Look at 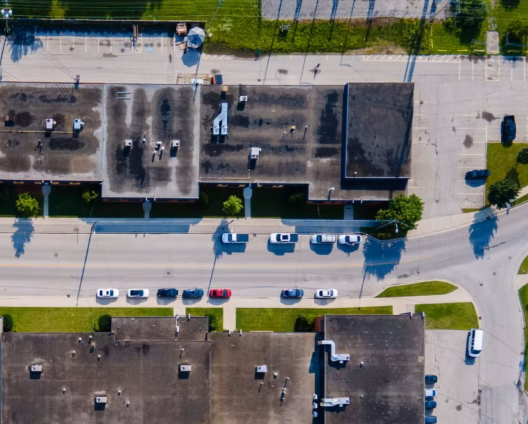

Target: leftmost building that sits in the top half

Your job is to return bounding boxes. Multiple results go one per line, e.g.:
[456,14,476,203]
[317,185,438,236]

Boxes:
[0,82,103,186]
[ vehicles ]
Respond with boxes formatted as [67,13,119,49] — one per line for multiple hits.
[502,116,515,143]
[270,233,298,243]
[96,289,119,298]
[338,234,361,244]
[425,389,438,397]
[425,374,437,385]
[182,288,204,298]
[222,232,249,243]
[210,289,231,298]
[310,233,337,244]
[281,288,303,298]
[156,288,178,298]
[465,169,488,180]
[469,328,484,357]
[425,415,438,424]
[425,400,437,410]
[315,289,337,298]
